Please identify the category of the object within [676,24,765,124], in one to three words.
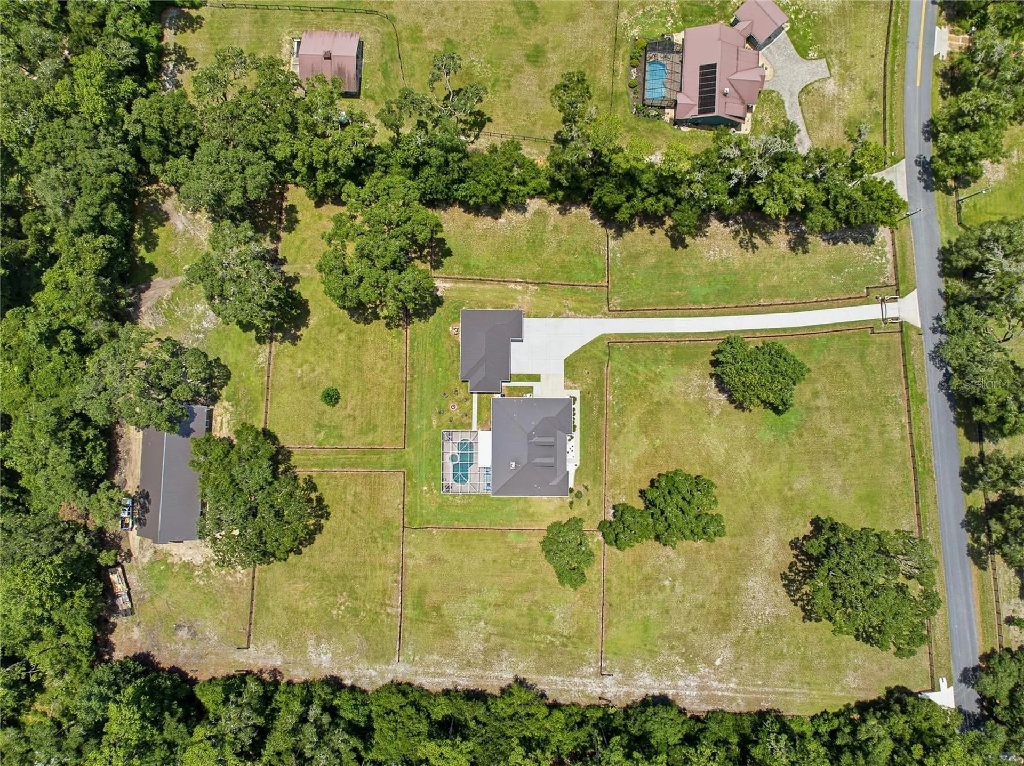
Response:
house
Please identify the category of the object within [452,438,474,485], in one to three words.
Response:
swimming pool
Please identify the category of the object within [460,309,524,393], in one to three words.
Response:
building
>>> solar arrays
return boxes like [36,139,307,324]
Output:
[698,63,716,113]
